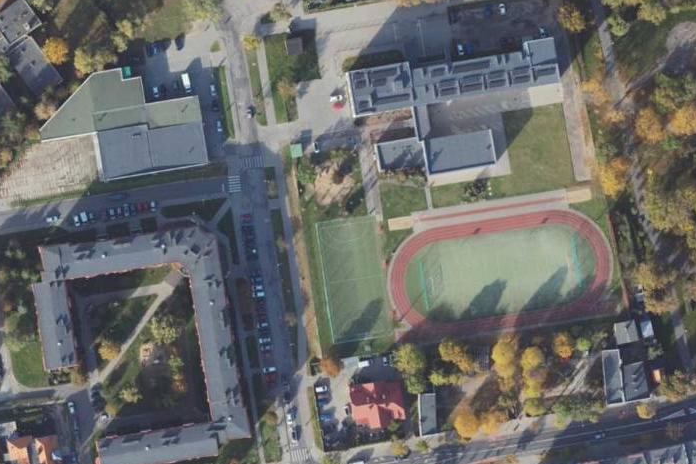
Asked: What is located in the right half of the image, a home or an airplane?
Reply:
home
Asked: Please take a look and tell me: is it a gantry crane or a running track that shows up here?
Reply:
running track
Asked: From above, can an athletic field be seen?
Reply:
Yes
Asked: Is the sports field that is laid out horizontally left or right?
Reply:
right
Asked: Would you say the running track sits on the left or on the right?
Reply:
right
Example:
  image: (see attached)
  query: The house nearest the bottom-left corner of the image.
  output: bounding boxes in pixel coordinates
[5,432,58,464]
